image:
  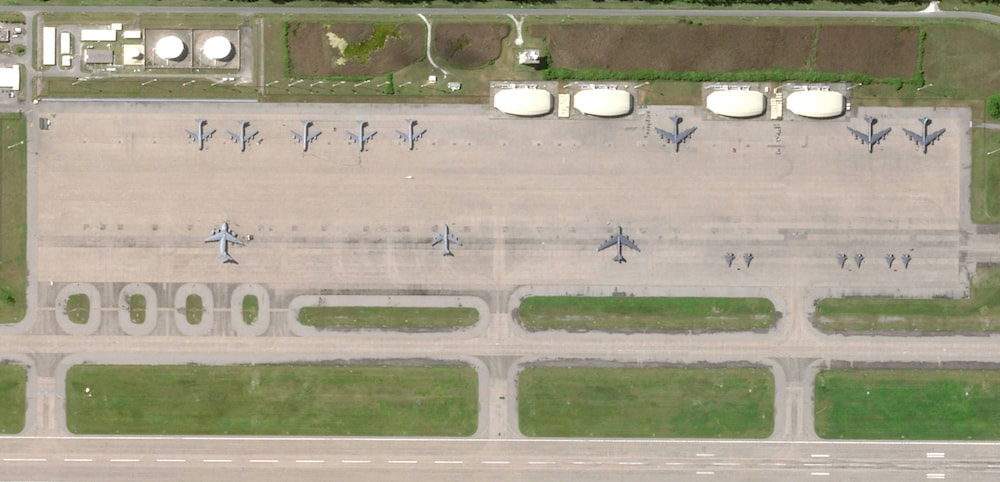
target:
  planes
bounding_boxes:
[852,116,893,152]
[229,120,259,151]
[905,116,946,152]
[903,255,913,266]
[657,114,698,151]
[855,254,865,267]
[187,119,217,150]
[348,120,378,151]
[396,119,428,150]
[432,223,463,254]
[292,120,322,151]
[745,253,755,264]
[727,253,736,266]
[887,254,896,267]
[601,226,642,262]
[206,222,247,262]
[839,254,849,267]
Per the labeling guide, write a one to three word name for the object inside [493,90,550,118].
hangar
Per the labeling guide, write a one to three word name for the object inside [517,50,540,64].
building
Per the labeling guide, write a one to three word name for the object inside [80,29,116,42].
building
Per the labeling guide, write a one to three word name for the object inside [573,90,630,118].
hangar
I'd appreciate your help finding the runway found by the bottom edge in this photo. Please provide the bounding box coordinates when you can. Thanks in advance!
[0,435,1000,482]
